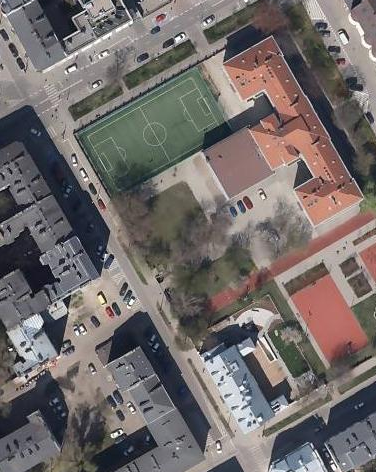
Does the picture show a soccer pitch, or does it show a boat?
soccer pitch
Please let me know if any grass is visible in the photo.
Yes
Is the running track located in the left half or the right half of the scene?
right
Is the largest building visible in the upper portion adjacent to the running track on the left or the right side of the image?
right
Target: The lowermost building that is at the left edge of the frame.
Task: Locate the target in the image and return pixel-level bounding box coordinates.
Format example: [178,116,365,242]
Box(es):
[0,412,60,472]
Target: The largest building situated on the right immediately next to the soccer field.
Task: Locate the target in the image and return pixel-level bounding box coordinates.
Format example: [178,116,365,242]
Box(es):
[223,33,366,229]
